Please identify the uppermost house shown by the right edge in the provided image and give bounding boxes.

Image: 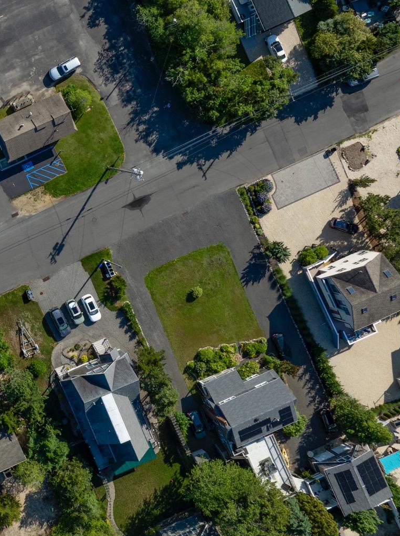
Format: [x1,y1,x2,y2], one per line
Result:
[294,251,400,350]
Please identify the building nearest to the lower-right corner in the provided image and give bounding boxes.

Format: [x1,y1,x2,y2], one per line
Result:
[289,436,392,515]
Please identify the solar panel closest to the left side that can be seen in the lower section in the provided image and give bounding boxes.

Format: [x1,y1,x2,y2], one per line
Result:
[239,422,264,441]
